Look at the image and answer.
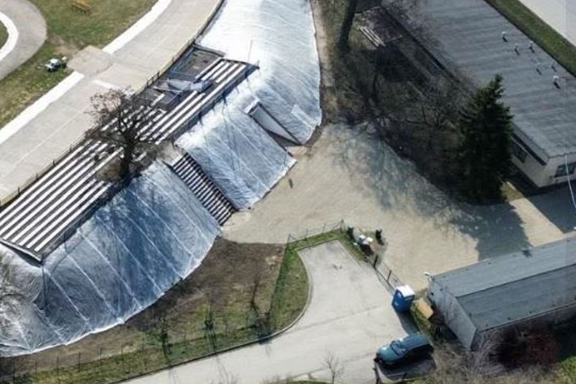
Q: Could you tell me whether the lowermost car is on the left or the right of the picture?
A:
right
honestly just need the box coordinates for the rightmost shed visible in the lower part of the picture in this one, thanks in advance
[420,235,576,353]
